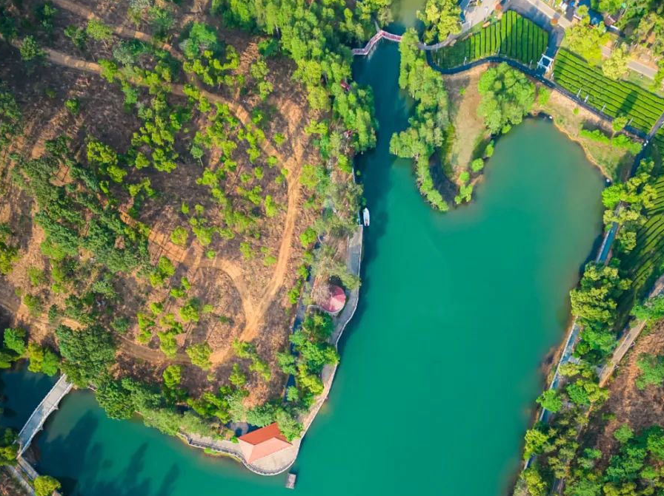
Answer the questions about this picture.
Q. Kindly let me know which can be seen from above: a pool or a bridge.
bridge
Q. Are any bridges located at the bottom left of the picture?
Yes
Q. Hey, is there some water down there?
Yes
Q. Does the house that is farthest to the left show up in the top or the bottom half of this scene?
bottom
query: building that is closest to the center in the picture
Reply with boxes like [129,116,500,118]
[317,284,347,315]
